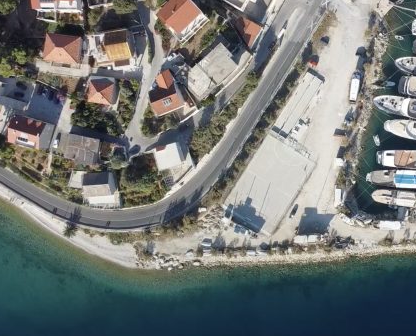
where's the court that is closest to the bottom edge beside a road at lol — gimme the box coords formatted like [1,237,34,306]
[223,134,316,235]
